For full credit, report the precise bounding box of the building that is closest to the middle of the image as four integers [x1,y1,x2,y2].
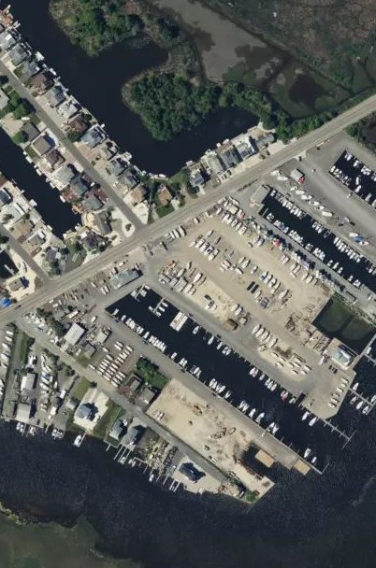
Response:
[107,266,140,292]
